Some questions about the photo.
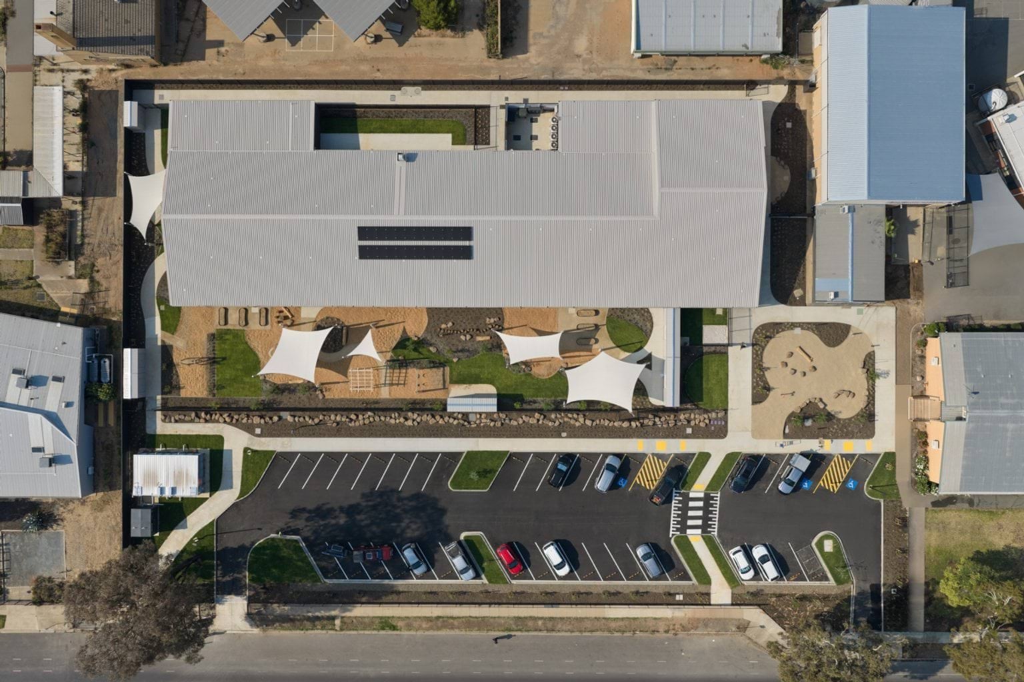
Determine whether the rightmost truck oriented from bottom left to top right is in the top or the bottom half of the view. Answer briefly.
bottom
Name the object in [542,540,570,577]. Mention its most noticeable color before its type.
white car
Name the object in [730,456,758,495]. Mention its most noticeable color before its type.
black car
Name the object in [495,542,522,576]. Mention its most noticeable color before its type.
red car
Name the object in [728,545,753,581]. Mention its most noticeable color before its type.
white car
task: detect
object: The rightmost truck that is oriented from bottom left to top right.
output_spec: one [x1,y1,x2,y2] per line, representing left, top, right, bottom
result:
[778,452,812,495]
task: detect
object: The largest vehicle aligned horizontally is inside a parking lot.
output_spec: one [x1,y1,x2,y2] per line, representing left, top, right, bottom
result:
[351,546,394,565]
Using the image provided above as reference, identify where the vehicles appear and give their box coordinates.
[495,542,522,576]
[401,541,427,576]
[351,546,394,565]
[778,452,812,495]
[728,545,753,581]
[547,453,572,489]
[730,456,758,495]
[752,543,781,584]
[648,464,686,508]
[542,540,570,577]
[595,454,620,495]
[444,540,475,583]
[636,542,664,581]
